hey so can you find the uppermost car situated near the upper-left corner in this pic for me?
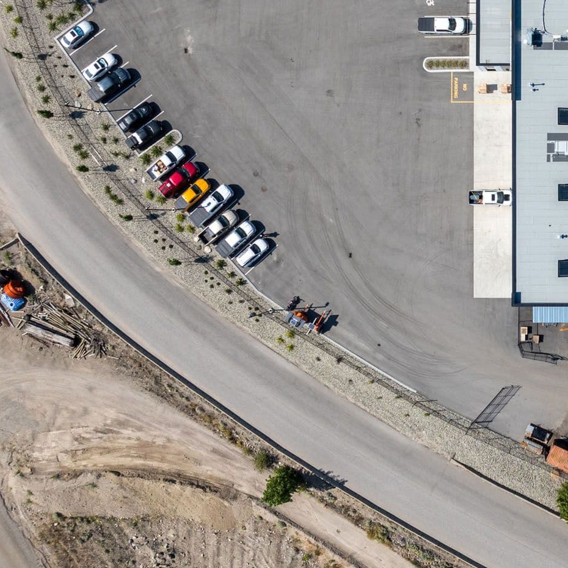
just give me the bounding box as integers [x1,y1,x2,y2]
[56,19,93,50]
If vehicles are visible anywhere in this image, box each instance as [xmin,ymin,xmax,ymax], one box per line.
[195,206,240,246]
[155,159,200,198]
[141,142,187,181]
[186,185,233,226]
[172,175,214,212]
[79,50,116,81]
[211,217,257,258]
[233,236,268,268]
[468,189,512,206]
[82,64,131,103]
[418,14,464,33]
[56,19,93,50]
[288,298,298,311]
[119,117,165,153]
[111,99,156,134]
